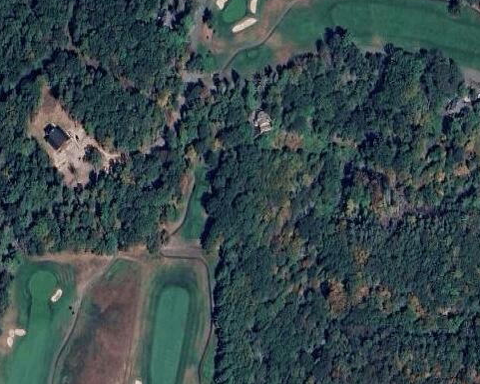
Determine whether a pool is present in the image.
No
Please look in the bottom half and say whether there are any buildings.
No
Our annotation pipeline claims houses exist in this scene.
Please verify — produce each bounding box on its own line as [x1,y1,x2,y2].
[252,111,272,132]
[37,121,72,148]
[449,93,469,113]
[160,11,177,27]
